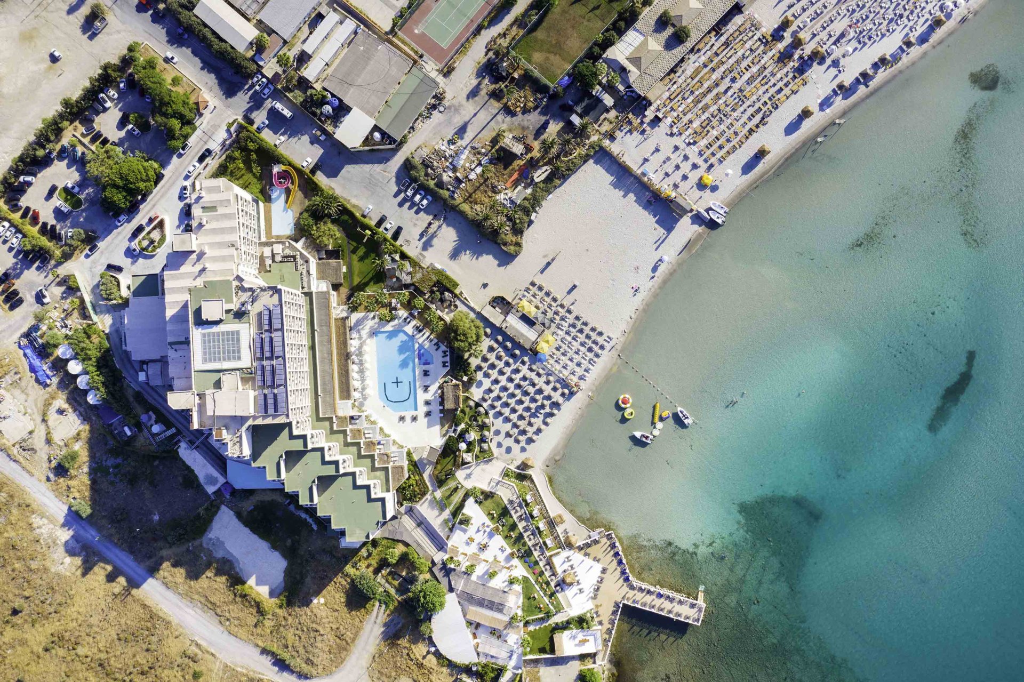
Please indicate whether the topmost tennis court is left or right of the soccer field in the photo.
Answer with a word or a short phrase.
to the left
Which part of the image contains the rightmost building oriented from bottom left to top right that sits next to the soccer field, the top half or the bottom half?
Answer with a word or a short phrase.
top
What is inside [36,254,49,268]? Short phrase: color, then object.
black vehicle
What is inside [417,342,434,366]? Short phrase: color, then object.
blue swimming pool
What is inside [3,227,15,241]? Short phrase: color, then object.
white vehicle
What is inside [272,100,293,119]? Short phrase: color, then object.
white vehicle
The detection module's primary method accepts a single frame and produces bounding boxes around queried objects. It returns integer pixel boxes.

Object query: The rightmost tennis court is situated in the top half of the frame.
[394,0,497,66]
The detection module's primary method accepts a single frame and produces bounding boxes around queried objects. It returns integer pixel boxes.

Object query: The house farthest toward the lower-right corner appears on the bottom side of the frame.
[553,624,602,655]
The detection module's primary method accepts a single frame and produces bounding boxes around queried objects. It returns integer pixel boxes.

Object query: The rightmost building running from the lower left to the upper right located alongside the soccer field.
[603,0,738,98]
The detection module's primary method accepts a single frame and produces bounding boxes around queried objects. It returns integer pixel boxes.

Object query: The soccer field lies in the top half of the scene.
[512,0,631,86]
